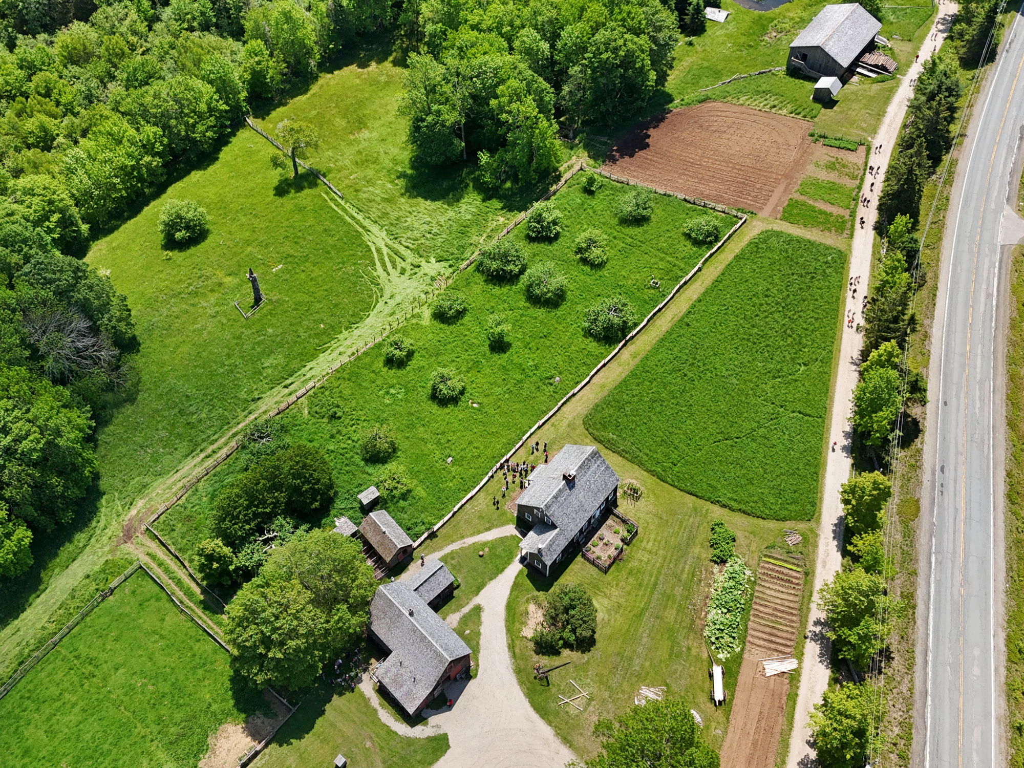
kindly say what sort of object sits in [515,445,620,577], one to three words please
house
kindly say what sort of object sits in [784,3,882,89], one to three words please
barn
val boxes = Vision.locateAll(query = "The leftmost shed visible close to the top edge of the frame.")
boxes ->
[705,6,730,26]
